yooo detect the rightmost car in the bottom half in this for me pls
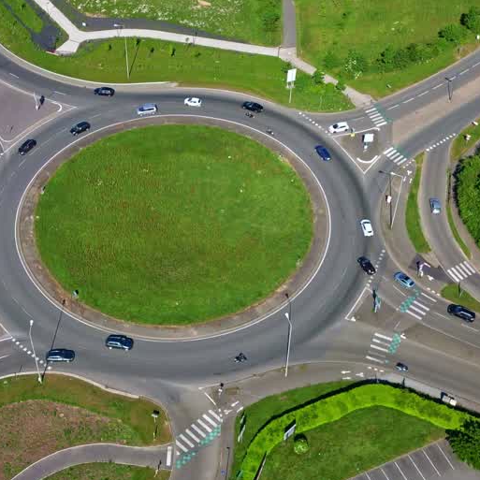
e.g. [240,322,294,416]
[446,304,475,323]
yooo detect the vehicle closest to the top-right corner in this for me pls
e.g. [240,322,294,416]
[330,121,352,133]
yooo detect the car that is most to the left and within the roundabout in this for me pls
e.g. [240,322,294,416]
[18,139,39,156]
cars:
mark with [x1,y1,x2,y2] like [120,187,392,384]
[105,336,132,350]
[70,119,92,135]
[241,101,263,112]
[94,87,114,96]
[46,348,75,363]
[315,145,331,160]
[446,304,475,323]
[393,272,417,289]
[183,96,201,107]
[330,121,352,133]
[356,255,376,276]
[136,103,158,116]
[393,361,411,373]
[359,219,373,238]
[430,198,441,214]
[18,139,39,156]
